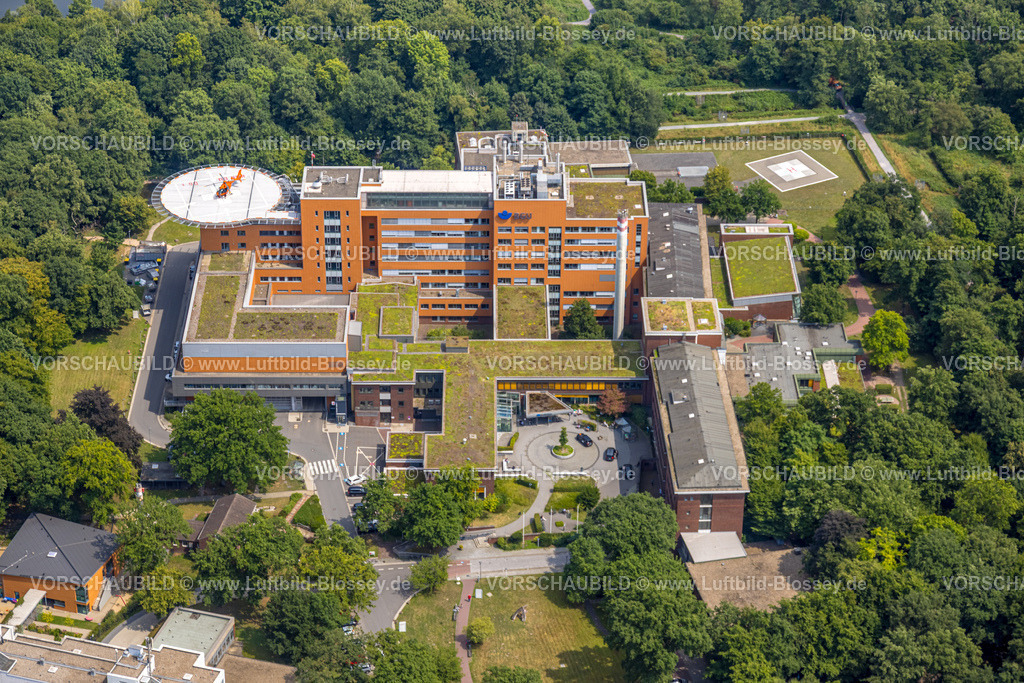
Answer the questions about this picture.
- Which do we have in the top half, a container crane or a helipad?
helipad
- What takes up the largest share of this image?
trees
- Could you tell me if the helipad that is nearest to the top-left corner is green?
No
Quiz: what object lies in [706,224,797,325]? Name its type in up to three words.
building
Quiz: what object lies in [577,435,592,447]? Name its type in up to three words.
vehicle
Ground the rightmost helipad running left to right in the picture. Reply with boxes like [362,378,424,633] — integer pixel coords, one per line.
[745,150,839,192]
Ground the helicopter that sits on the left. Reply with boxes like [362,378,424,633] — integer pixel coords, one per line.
[204,164,249,197]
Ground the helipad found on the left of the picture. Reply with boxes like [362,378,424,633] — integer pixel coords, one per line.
[148,161,303,230]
